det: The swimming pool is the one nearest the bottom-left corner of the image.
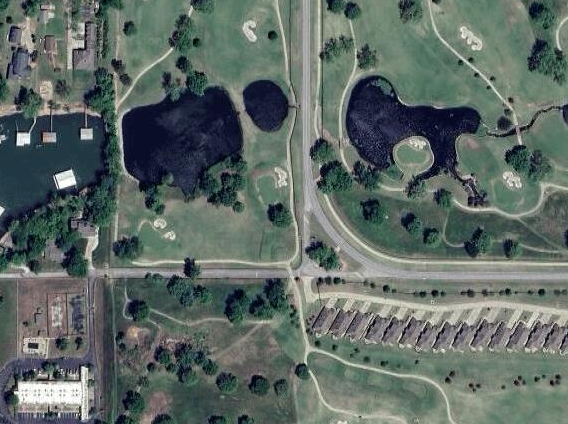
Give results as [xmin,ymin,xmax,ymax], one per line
[23,338,49,358]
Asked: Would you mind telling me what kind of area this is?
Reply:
golf course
